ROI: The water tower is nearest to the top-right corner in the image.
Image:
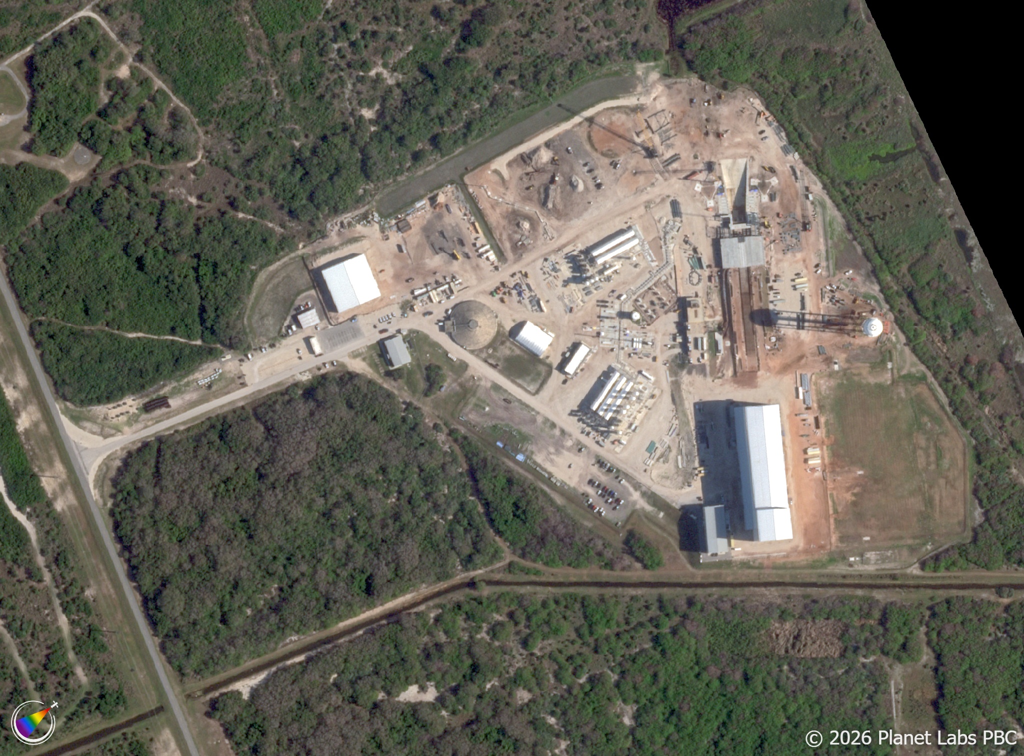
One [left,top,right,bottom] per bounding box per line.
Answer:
[844,315,884,340]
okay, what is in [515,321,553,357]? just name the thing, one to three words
tent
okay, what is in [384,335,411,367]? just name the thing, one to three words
building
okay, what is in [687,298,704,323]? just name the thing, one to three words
building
